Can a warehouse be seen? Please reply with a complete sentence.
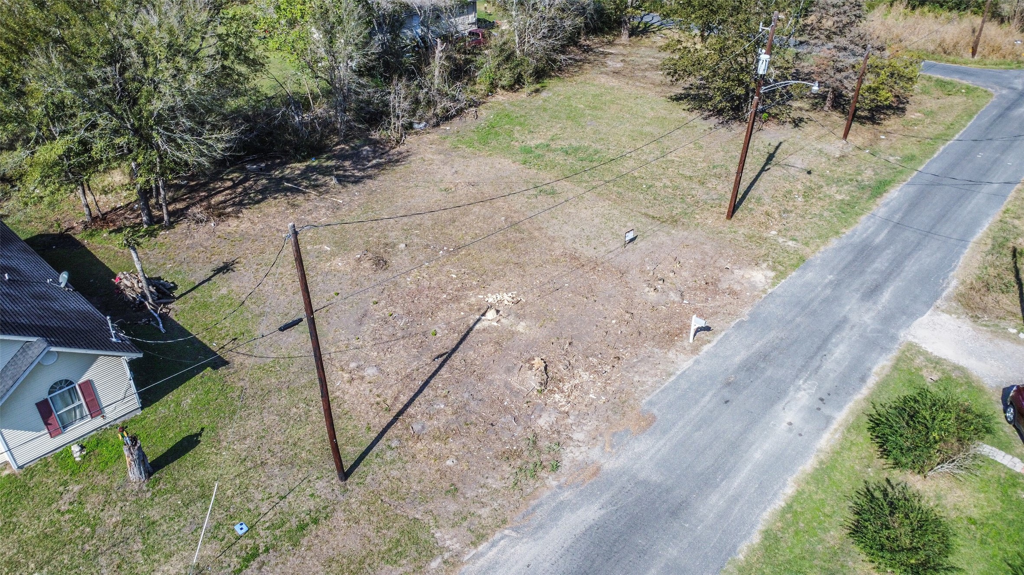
No, I find no warehouse anywhere in the image.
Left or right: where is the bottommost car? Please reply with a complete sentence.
It is on the right.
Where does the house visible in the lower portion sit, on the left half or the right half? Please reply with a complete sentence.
The house visible in the lower portion is on the left side of the image.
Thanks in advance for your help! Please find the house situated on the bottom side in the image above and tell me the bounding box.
[0,223,144,470]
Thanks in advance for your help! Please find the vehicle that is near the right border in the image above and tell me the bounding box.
[1004,389,1024,427]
